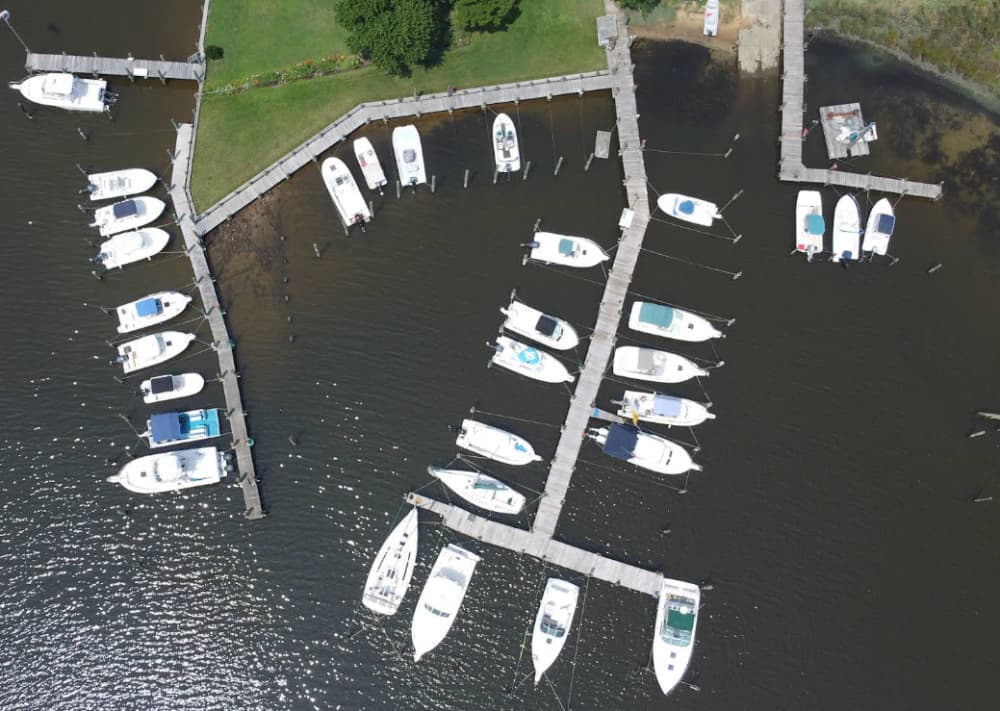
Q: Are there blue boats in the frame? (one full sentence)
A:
Yes, this view includes a blue boat.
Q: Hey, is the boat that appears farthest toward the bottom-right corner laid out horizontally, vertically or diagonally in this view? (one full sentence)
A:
From this overhead view, the boat that appears farthest toward the bottom-right corner appears to run vertically.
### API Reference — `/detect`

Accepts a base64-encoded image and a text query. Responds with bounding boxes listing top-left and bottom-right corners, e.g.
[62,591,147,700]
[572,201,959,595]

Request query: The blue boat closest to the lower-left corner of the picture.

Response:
[138,407,221,451]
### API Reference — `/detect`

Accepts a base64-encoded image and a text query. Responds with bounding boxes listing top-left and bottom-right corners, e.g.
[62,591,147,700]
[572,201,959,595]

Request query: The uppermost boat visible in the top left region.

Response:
[7,73,120,111]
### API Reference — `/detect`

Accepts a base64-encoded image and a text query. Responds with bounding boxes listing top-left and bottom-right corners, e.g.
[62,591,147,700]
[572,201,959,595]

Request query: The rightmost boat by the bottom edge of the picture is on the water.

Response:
[651,577,702,696]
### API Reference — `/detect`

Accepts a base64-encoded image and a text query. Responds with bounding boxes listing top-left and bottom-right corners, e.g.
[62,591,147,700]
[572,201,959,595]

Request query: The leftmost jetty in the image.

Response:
[21,44,200,87]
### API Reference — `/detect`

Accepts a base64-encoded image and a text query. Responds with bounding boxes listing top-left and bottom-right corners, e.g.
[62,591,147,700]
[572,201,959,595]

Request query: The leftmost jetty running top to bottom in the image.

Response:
[163,120,267,518]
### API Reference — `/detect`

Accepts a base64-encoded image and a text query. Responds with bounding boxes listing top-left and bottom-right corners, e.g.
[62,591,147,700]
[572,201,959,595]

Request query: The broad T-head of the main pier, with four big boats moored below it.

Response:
[403,493,664,599]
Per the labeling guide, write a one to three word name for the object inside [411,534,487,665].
boat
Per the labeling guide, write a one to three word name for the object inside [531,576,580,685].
boat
